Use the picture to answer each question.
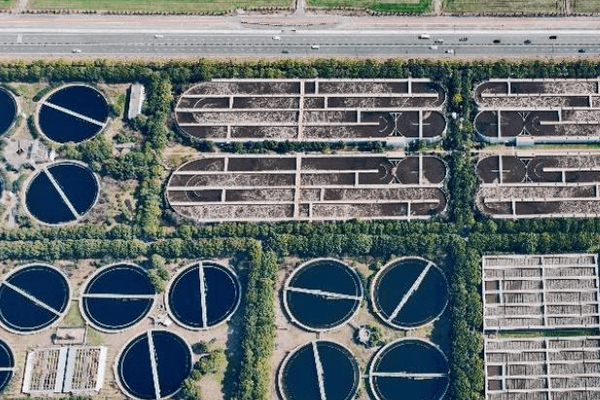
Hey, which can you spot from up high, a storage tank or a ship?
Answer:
storage tank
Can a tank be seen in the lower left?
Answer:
Yes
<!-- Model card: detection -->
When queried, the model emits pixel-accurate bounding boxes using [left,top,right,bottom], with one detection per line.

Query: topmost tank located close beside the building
[37,82,110,145]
